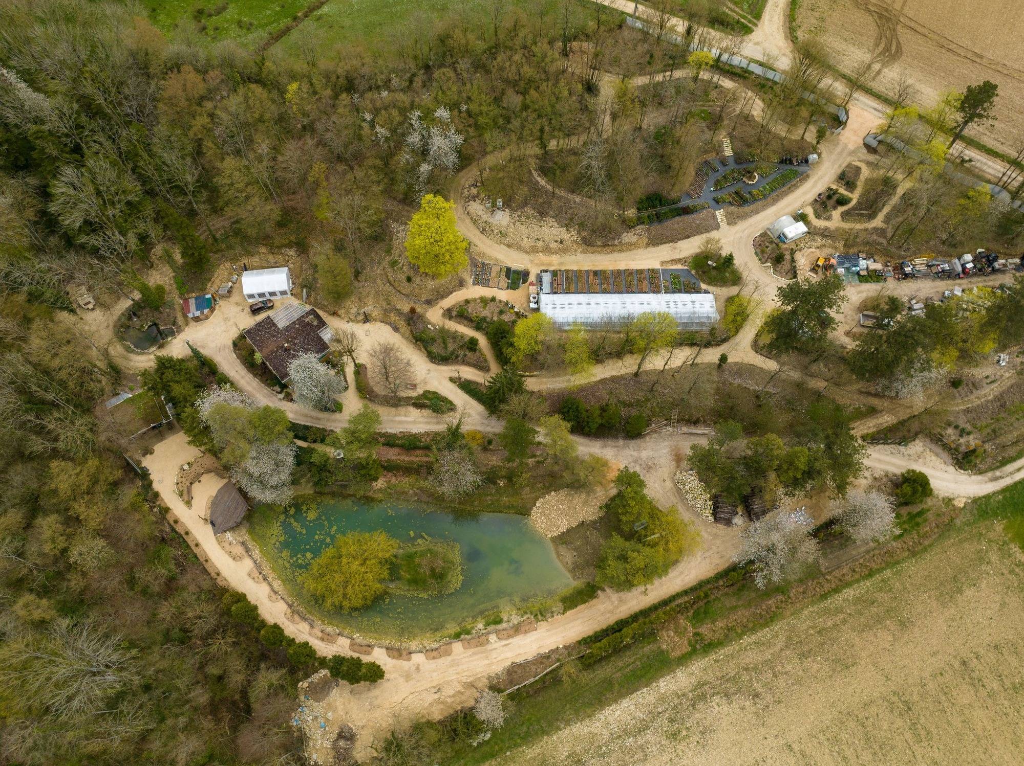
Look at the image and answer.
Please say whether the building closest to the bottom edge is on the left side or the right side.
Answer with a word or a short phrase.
left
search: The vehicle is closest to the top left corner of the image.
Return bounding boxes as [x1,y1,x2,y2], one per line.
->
[247,301,275,316]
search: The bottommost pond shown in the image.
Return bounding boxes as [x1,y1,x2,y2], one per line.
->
[248,495,571,645]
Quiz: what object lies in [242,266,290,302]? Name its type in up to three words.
shed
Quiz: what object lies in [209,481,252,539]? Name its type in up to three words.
building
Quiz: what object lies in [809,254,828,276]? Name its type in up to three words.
work vehicle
